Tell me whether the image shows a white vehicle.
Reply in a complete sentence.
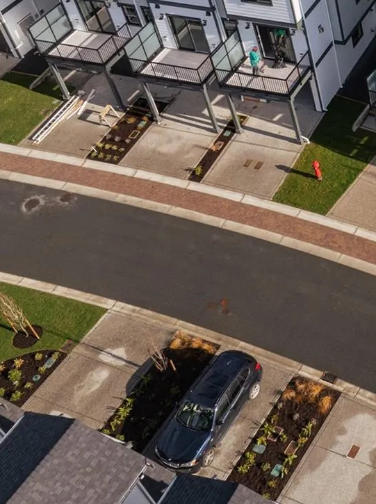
No, there is no white vehicle in the image.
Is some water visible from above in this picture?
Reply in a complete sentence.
No, the scene doesn't show any water.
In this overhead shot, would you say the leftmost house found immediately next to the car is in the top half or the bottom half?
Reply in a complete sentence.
You can find the leftmost house found immediately next to the car in the bottom half.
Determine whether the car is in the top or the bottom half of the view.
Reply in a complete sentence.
You can find the car in the bottom half.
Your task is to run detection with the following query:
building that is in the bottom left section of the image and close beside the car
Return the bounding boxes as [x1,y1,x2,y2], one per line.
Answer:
[0,419,168,504]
